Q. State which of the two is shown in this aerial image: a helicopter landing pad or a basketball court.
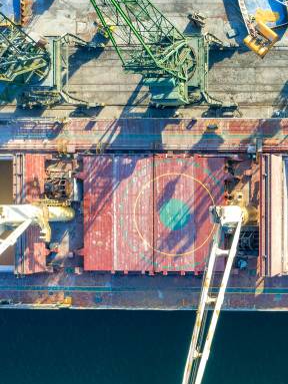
helicopter landing pad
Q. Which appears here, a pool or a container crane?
container crane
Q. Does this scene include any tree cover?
No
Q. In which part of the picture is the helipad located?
center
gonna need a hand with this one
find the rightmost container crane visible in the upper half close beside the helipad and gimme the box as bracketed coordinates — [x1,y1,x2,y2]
[94,0,239,110]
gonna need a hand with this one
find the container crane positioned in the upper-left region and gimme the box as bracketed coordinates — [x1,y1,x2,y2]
[0,5,105,126]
